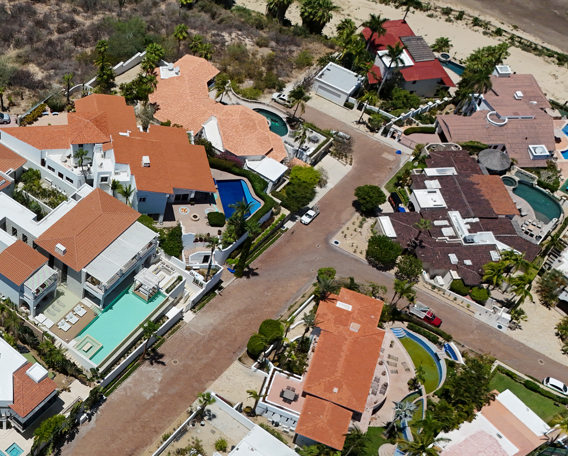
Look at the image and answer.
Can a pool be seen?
Yes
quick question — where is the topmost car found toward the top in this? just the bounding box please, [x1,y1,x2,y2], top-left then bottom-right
[271,93,294,107]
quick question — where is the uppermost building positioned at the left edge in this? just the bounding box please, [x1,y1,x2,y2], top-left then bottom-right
[0,93,216,215]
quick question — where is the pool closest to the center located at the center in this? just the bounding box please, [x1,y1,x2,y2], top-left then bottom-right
[213,177,265,223]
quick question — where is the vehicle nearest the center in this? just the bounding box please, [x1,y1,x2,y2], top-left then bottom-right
[300,207,319,225]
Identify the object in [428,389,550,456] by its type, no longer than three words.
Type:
house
